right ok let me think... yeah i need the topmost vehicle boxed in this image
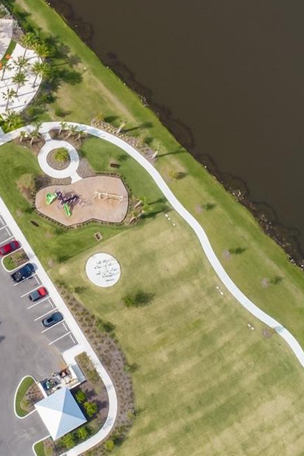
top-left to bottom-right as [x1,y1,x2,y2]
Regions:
[0,240,20,255]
